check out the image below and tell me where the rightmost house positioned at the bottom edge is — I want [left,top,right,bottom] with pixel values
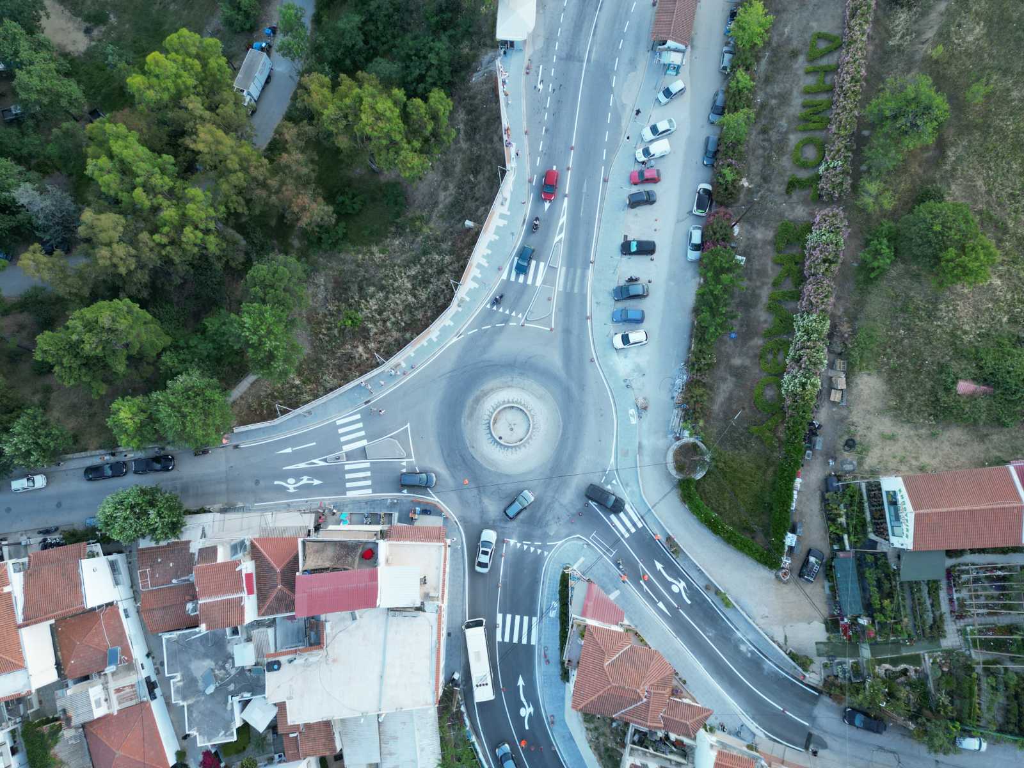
[688,727,769,768]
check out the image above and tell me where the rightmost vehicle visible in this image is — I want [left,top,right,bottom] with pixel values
[952,734,986,755]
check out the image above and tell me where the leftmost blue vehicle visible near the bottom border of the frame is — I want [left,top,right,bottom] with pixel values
[496,738,518,768]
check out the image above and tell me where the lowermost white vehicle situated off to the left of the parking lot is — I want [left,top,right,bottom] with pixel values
[461,614,495,710]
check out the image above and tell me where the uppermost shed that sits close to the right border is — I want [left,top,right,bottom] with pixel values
[949,380,993,394]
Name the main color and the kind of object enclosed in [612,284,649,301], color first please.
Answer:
blue car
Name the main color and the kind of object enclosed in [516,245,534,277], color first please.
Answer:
blue car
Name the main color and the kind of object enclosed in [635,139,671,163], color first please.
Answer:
white vehicle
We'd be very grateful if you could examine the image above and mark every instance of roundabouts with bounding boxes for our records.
[439,354,584,498]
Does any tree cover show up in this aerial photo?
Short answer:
Yes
